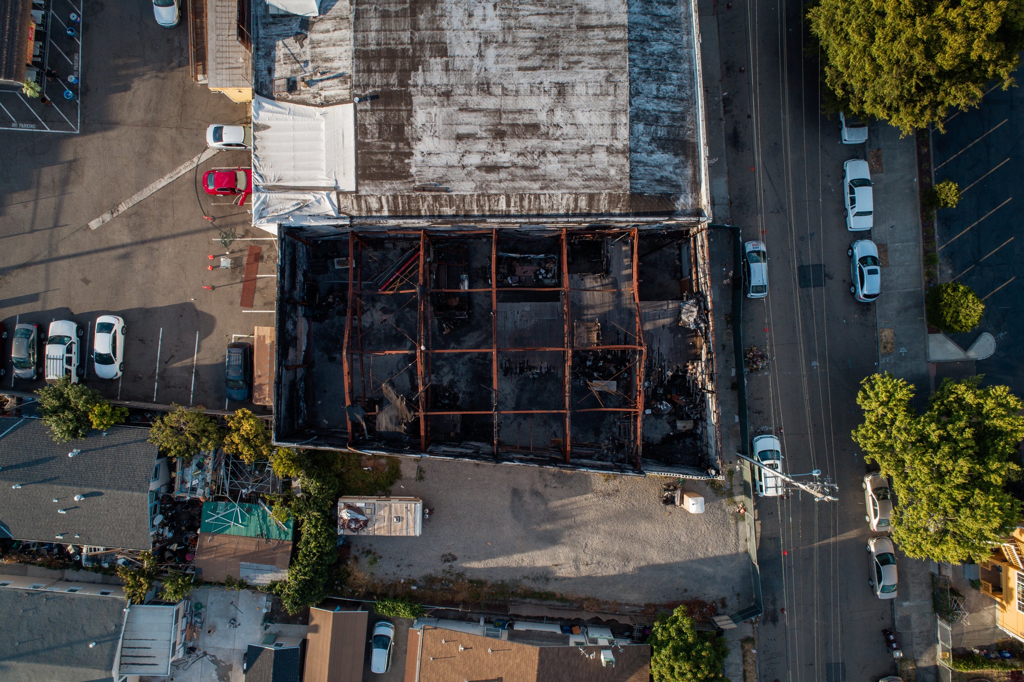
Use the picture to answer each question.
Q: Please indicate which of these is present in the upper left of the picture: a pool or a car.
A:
car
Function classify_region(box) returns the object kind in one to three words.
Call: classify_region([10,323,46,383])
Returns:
car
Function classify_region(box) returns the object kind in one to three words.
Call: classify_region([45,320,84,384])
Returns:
car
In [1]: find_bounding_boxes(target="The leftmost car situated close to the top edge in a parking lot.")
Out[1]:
[151,0,184,31]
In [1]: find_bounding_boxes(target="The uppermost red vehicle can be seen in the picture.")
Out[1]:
[203,168,256,206]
